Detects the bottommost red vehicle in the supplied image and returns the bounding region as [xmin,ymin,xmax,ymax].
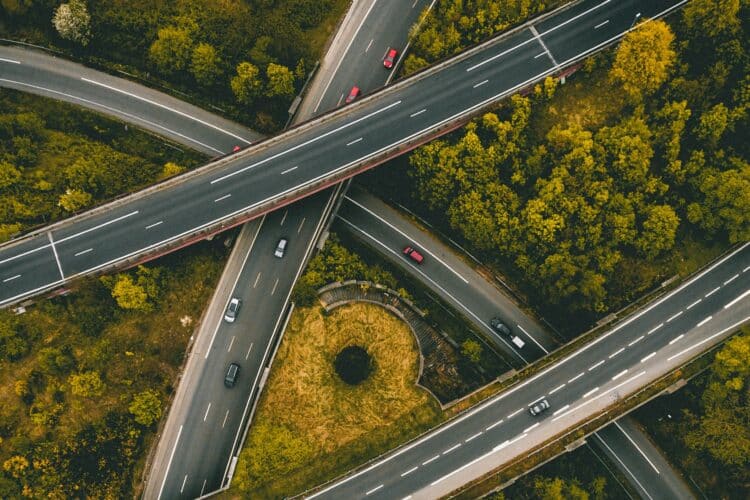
[402,246,425,265]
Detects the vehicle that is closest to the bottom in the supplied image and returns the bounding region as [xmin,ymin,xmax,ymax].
[527,398,552,418]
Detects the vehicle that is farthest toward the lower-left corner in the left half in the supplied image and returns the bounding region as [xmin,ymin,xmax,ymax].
[223,362,241,388]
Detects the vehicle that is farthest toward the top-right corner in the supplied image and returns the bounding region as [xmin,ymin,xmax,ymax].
[382,49,398,69]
